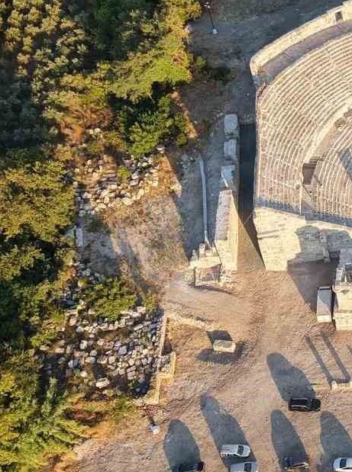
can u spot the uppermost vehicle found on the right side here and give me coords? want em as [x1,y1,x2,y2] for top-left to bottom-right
[288,396,321,412]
